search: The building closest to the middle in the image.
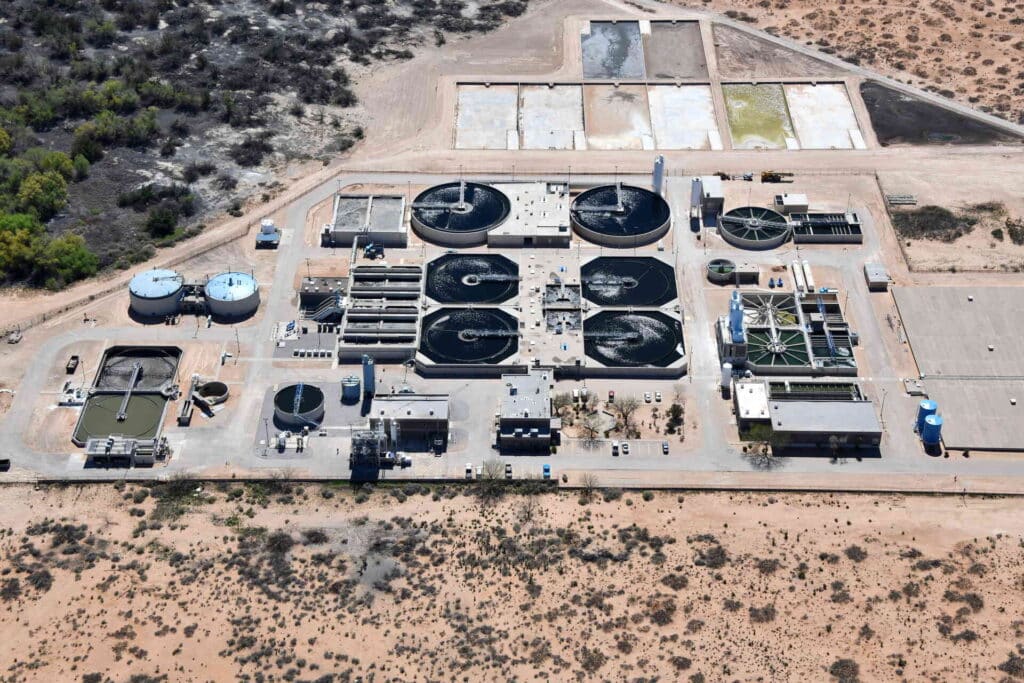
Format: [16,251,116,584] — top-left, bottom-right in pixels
[500,368,561,450]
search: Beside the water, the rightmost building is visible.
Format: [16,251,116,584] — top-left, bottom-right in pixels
[863,263,893,289]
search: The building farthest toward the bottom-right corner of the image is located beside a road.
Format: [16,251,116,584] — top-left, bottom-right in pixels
[768,400,882,447]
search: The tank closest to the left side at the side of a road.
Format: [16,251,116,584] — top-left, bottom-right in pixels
[129,267,187,318]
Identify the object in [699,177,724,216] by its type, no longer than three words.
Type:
shed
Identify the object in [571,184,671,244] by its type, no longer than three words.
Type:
storage tank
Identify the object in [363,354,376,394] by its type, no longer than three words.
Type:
silo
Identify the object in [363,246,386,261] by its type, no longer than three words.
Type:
vehicle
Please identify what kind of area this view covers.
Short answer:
industrial area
